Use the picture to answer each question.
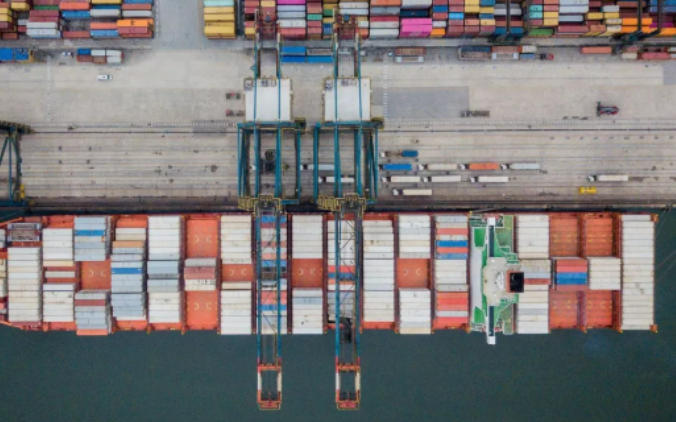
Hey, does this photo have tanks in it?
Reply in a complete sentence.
No, there appears to be no tank in this shot.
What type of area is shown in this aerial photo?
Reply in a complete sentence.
The picture captures a port.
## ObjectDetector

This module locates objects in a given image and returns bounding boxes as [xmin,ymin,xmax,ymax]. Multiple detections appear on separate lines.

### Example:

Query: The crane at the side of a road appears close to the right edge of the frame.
[609,0,661,44]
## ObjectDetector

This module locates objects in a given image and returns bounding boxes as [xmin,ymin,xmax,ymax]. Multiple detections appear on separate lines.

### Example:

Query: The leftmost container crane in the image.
[0,116,44,206]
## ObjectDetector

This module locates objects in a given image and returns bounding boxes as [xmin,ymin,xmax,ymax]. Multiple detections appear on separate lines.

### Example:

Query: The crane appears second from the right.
[487,0,528,44]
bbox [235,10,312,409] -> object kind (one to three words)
container crane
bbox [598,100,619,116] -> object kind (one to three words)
work vehicle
